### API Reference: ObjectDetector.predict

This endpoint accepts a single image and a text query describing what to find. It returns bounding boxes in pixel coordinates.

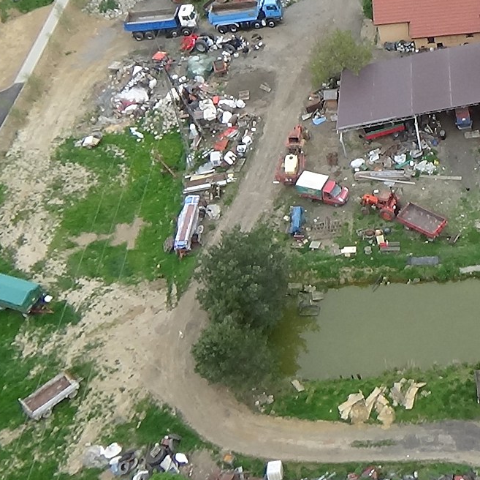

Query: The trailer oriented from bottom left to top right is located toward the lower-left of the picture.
[18,369,89,421]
